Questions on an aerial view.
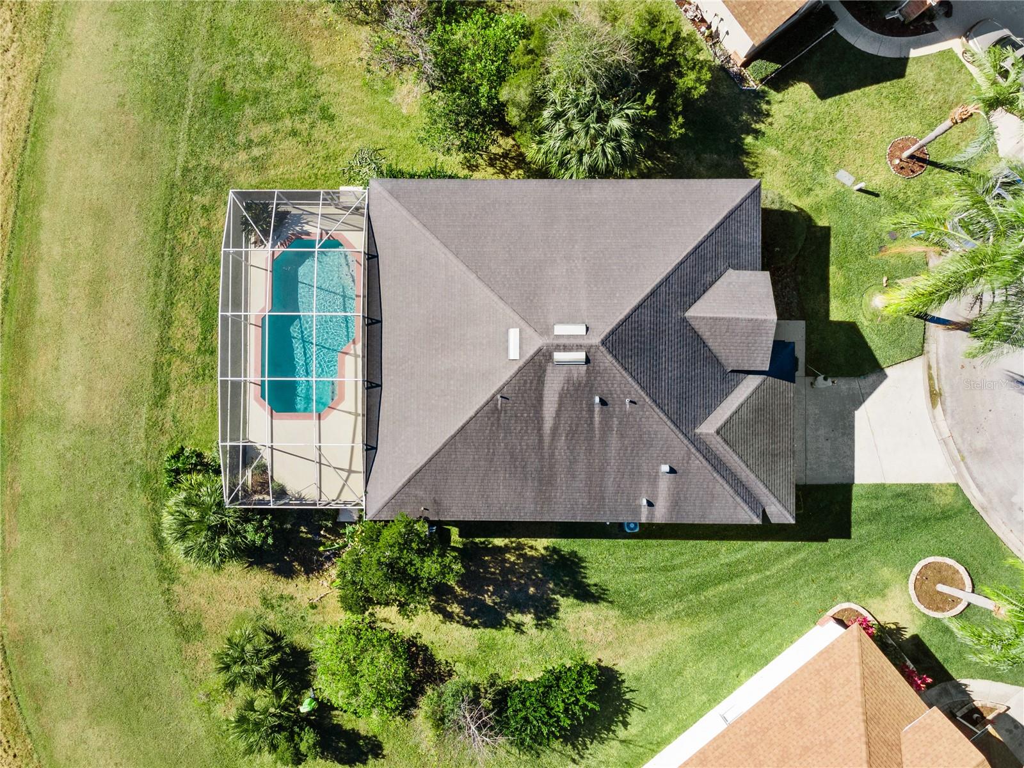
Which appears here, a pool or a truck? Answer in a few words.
pool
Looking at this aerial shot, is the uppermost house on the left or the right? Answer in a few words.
right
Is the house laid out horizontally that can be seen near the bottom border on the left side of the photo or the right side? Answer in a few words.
right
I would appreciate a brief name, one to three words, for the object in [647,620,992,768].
house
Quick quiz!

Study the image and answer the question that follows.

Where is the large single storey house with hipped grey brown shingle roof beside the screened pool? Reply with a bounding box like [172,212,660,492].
[365,178,797,524]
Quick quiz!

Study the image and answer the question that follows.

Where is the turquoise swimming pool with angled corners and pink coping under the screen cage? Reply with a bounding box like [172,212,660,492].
[253,232,362,419]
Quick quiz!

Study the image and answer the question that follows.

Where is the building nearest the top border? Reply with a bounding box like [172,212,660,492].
[692,0,811,66]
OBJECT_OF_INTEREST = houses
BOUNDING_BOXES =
[692,0,811,66]
[647,620,992,768]
[365,178,797,524]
